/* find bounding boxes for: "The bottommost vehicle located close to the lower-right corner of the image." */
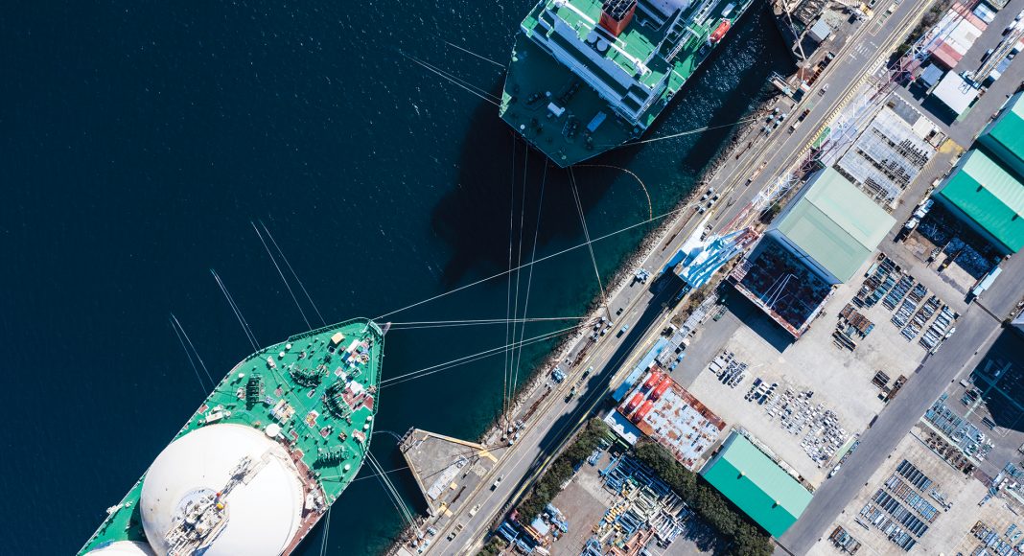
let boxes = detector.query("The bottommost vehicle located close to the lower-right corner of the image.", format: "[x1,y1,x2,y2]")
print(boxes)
[929,485,957,509]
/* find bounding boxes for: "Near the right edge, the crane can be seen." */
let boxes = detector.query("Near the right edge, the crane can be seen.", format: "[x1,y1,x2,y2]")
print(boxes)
[964,13,1024,94]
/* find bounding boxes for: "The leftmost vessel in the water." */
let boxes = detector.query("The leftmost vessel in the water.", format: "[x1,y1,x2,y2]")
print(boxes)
[73,319,389,556]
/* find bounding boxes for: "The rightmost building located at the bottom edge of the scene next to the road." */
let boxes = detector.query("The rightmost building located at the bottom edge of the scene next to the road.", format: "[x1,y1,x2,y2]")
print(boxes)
[702,431,813,539]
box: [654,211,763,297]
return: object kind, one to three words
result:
crane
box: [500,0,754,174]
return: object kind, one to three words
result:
ship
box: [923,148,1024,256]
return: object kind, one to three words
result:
building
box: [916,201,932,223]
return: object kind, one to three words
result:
vehicle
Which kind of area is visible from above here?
port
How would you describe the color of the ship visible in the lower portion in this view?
white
